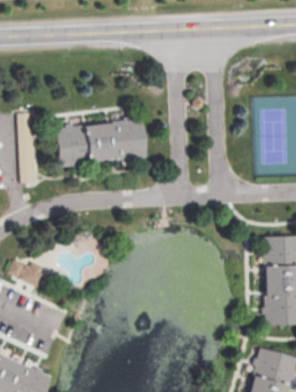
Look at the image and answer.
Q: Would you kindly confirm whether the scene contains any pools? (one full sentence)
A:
Yes, you can see a pool in this photo.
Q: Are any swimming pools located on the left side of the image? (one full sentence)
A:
Yes, the scene does show a swimming pool on the left side of the image.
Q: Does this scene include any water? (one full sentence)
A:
Yes, the picture does contain water.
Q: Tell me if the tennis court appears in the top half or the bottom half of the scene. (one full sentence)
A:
The tennis court sits in the top half of the picture.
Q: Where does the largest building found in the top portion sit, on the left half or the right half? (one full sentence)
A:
It is on the left.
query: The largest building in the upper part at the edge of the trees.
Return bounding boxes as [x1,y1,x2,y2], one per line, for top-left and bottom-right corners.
[54,120,146,170]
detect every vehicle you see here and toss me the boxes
[32,302,40,314]
[5,326,13,337]
[25,299,34,311]
[18,295,26,307]
[26,334,34,346]
[265,21,277,26]
[34,339,42,350]
[6,288,14,300]
[186,23,198,28]
[0,322,6,333]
